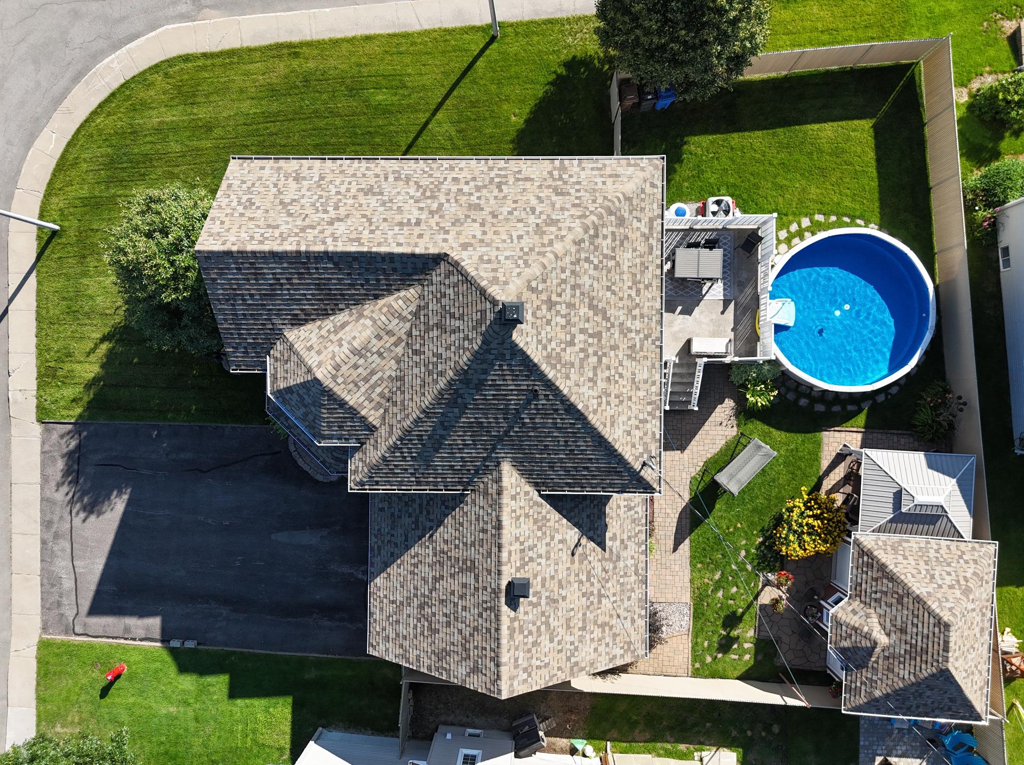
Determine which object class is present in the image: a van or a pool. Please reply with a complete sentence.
This aerial view contains a pool.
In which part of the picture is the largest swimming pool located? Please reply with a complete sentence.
The largest swimming pool sits in the right section of the image.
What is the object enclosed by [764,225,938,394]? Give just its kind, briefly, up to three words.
swimming pool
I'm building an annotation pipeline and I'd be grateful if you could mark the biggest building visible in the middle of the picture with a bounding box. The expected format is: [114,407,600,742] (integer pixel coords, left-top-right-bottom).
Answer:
[197,152,670,701]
